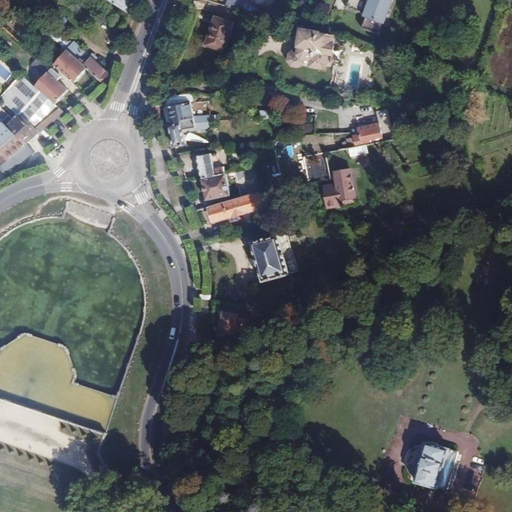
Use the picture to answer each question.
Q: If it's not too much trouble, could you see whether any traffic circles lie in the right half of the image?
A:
No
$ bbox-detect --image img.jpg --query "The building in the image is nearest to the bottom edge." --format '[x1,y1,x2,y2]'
[404,441,460,490]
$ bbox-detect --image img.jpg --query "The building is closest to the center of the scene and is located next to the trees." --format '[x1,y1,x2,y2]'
[250,235,299,284]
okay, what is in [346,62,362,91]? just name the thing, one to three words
swimming pool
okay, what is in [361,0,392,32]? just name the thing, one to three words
building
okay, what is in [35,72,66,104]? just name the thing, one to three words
house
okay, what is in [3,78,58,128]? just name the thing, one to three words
building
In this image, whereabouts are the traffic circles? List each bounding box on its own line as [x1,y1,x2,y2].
[53,116,146,208]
